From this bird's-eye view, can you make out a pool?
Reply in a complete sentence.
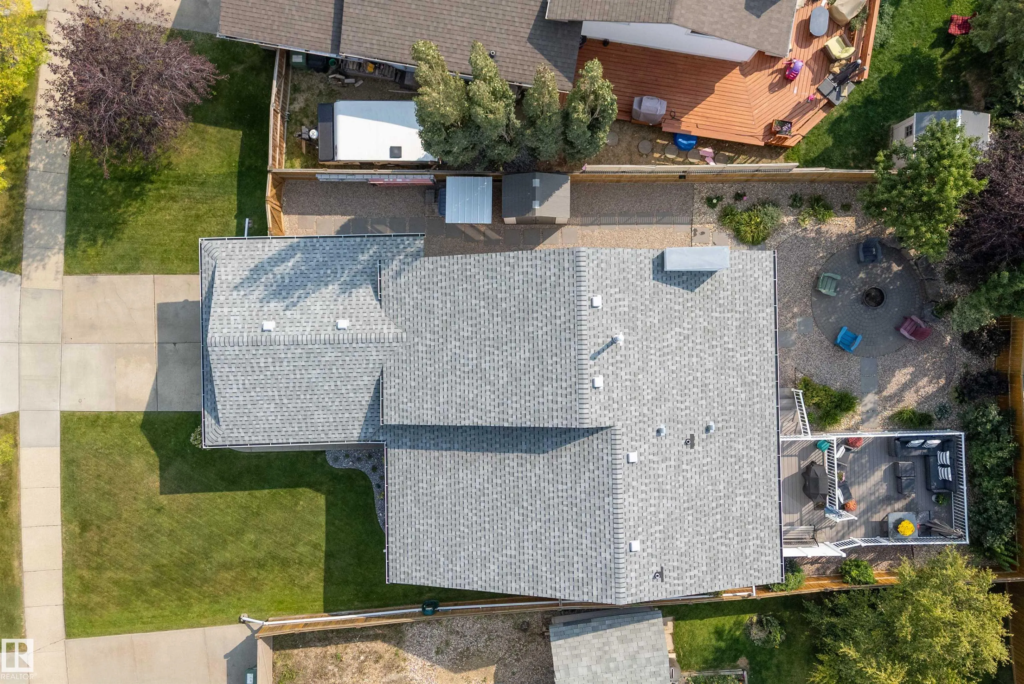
No, there is no pool in the image.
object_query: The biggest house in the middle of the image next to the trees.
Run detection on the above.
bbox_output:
[197,220,786,604]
